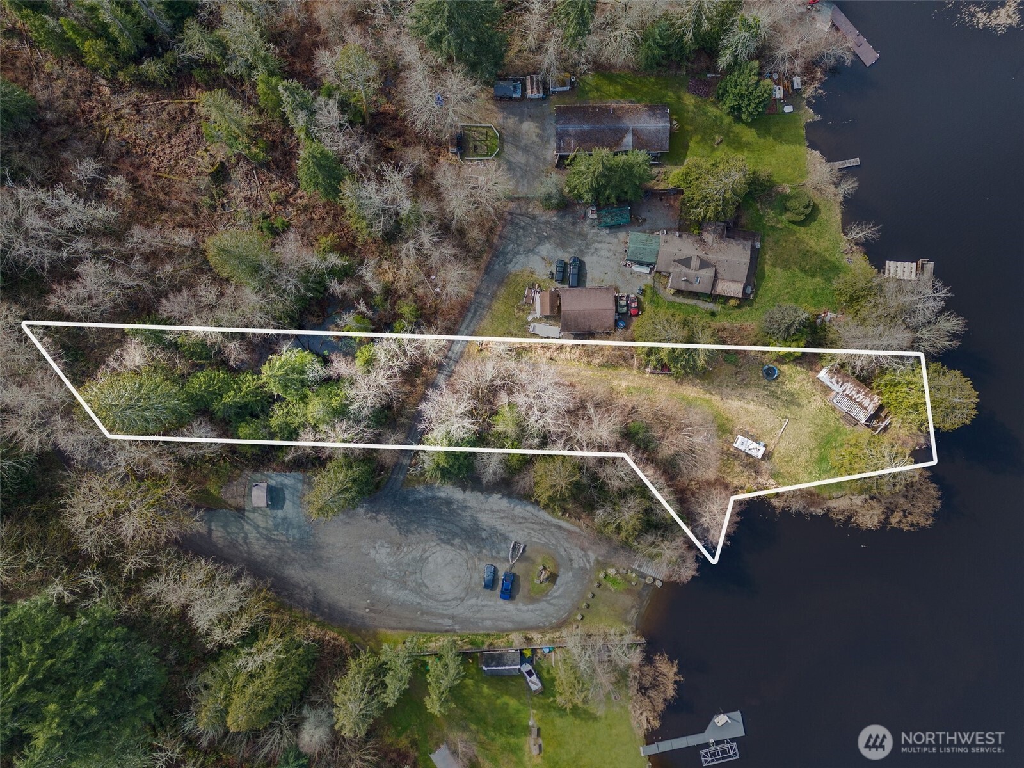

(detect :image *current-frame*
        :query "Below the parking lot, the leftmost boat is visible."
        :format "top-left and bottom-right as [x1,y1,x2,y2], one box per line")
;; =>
[524,665,545,695]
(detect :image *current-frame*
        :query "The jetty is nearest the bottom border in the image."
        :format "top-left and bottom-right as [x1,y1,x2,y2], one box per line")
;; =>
[640,708,745,756]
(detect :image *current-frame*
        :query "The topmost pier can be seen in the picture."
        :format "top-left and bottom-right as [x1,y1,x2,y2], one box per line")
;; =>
[830,5,880,67]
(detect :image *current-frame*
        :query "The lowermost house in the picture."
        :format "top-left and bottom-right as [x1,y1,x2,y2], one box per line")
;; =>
[429,739,467,768]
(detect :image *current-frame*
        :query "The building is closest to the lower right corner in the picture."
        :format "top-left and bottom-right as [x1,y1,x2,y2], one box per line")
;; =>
[817,362,891,432]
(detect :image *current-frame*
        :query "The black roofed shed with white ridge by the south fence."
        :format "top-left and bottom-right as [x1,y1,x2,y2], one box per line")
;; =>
[479,647,520,676]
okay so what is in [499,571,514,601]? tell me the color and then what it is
blue vehicle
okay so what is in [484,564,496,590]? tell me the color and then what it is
blue vehicle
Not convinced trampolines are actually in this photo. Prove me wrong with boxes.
[761,364,778,380]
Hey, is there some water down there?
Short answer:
Yes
